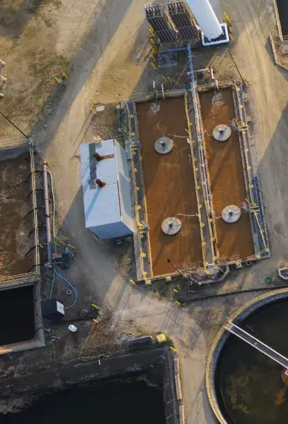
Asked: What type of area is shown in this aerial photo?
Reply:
industrial area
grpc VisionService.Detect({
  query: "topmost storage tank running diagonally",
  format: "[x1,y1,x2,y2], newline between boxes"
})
[184,0,230,46]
